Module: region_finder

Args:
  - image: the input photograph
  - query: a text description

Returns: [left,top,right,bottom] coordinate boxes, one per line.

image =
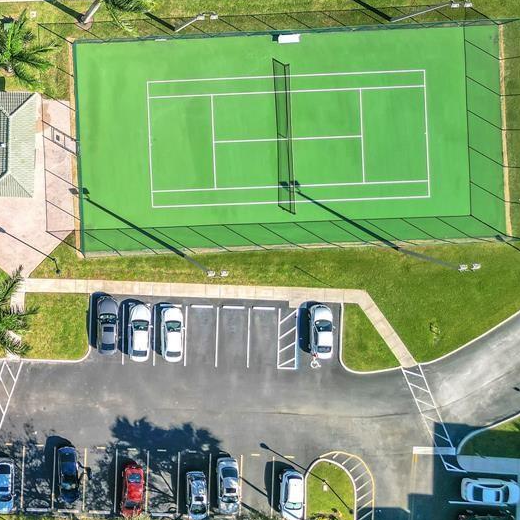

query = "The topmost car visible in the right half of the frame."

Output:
[306,303,335,358]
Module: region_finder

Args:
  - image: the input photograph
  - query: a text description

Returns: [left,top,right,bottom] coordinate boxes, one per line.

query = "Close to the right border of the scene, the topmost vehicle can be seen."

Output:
[461,476,520,506]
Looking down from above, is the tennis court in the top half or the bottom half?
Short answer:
top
